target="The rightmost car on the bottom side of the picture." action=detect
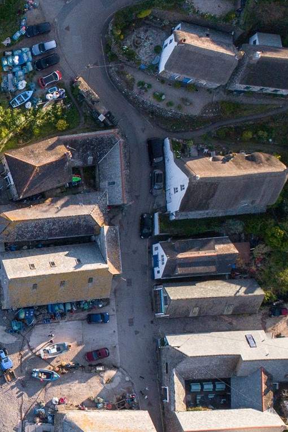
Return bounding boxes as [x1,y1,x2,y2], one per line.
[267,305,288,318]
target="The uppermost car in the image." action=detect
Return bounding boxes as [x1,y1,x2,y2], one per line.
[24,20,51,40]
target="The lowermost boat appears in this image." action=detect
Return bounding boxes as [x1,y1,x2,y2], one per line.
[30,368,61,382]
